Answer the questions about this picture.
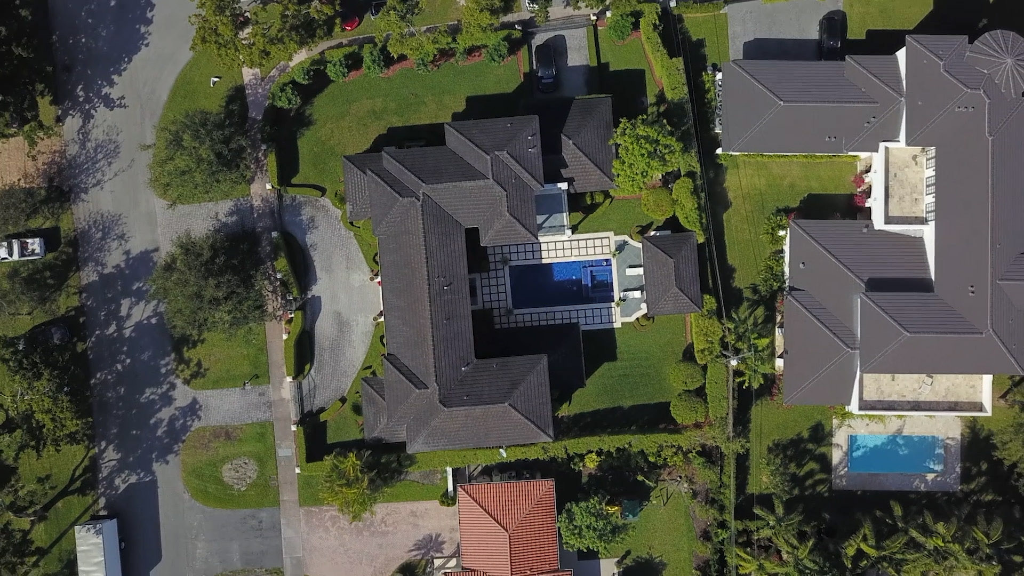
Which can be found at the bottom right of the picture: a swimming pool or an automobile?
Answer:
swimming pool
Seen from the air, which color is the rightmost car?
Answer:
black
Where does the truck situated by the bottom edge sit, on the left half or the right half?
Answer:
left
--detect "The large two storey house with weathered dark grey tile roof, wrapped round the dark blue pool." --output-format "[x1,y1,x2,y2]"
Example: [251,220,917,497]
[342,96,616,453]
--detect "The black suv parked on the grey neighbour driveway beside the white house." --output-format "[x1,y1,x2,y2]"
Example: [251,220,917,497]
[817,11,846,61]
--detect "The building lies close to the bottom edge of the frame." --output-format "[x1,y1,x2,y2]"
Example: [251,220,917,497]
[433,476,573,576]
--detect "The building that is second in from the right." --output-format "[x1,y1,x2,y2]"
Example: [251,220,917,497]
[640,231,702,317]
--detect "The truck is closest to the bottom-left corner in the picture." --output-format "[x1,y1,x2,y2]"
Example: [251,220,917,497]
[75,512,123,576]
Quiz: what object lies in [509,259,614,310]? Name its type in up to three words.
swimming pool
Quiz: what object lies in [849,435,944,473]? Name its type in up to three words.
swimming pool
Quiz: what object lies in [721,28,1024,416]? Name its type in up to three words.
house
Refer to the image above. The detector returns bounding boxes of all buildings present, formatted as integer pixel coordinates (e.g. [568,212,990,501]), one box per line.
[342,96,616,453]
[721,28,1024,416]
[640,231,702,317]
[433,476,573,576]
